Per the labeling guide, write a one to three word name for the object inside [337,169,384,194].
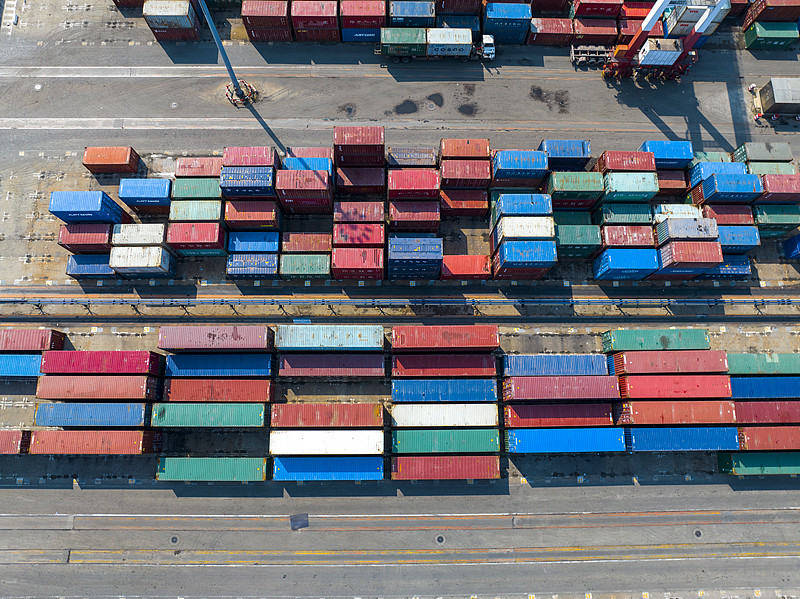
shipping container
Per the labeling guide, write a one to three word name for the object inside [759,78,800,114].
shed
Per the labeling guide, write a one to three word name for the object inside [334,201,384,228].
shipping container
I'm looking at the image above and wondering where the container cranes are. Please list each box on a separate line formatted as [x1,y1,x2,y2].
[600,0,726,89]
